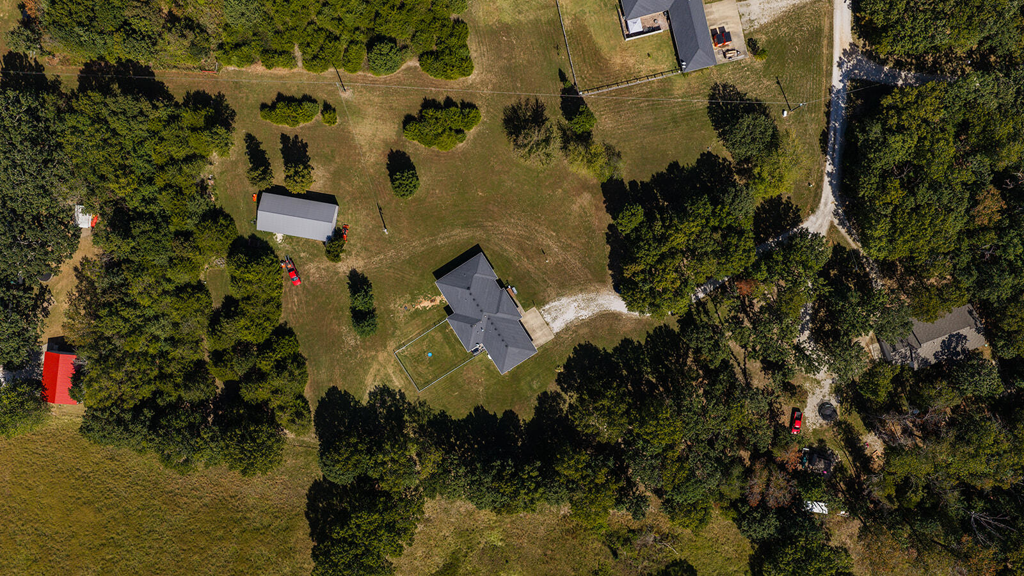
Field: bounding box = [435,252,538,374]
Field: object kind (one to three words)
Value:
house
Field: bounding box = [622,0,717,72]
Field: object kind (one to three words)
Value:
house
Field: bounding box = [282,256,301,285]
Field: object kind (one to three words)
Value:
vehicle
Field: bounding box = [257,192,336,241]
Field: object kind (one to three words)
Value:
barn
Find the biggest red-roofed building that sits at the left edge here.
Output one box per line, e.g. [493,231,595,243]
[42,351,83,405]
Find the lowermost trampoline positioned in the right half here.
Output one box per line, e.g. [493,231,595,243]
[820,405,838,421]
